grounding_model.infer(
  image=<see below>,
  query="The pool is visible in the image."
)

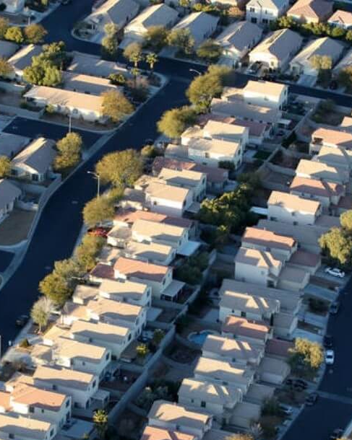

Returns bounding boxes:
[182,323,221,338]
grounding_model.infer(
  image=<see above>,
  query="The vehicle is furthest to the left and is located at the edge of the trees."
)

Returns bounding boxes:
[14,316,31,328]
